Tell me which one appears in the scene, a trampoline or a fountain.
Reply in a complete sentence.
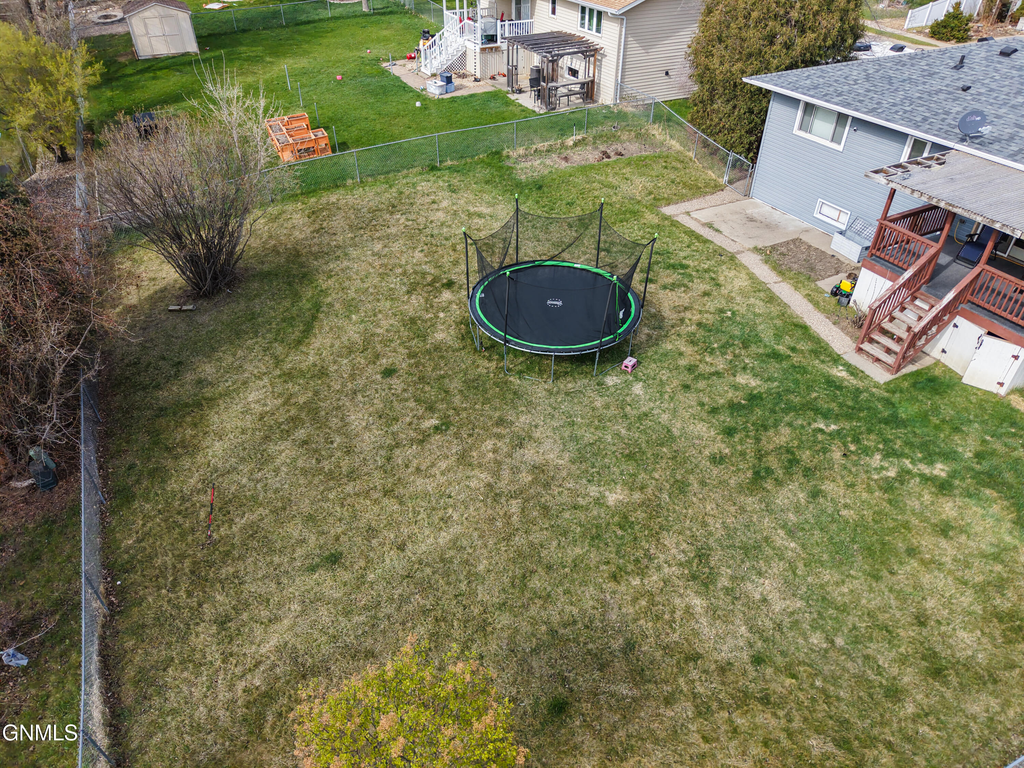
Looking from above, you can make out a trampoline.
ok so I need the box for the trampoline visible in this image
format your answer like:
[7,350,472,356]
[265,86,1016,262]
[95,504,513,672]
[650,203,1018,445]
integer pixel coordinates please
[461,191,658,383]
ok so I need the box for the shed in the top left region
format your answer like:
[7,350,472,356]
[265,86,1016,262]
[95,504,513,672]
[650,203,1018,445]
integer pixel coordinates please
[123,0,198,60]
